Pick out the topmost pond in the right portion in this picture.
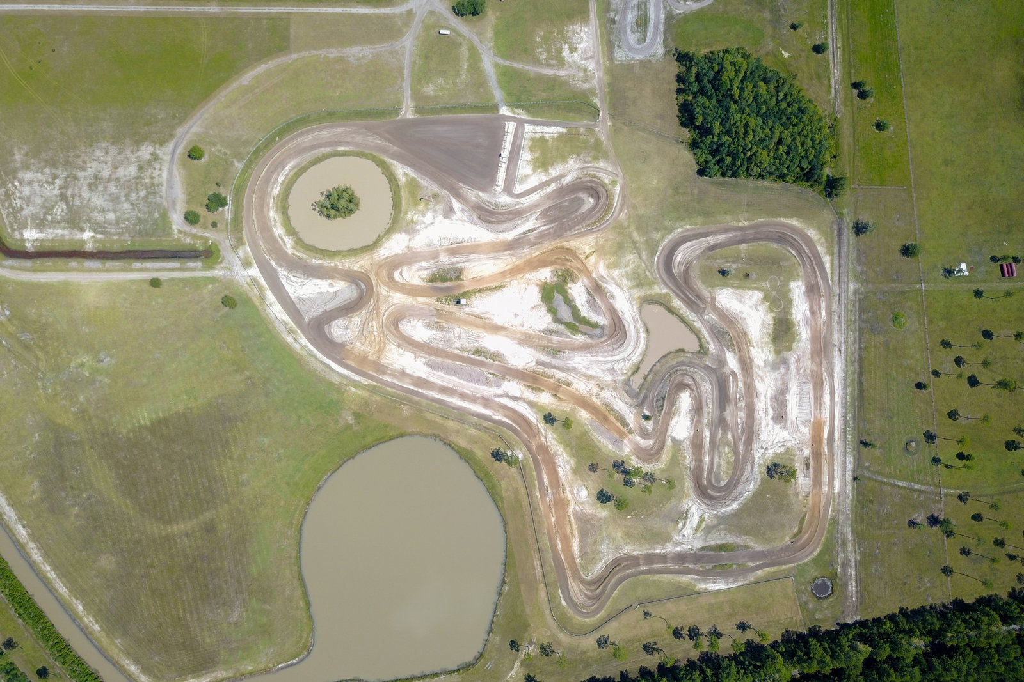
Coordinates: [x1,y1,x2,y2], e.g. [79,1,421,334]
[633,303,698,389]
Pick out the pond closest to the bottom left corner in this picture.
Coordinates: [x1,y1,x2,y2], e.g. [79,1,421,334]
[234,435,507,682]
